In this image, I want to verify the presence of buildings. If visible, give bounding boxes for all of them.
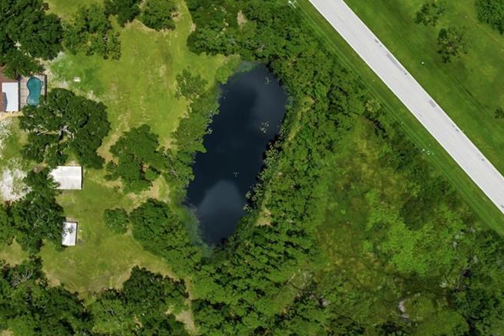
[0,61,19,114]
[62,222,76,245]
[47,166,82,189]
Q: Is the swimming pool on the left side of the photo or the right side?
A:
left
